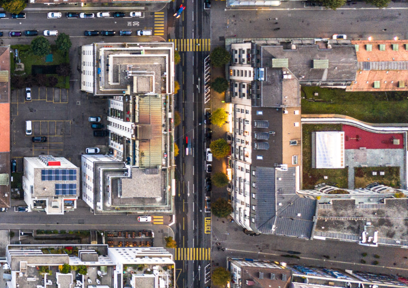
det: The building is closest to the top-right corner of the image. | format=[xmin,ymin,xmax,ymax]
[322,41,408,91]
